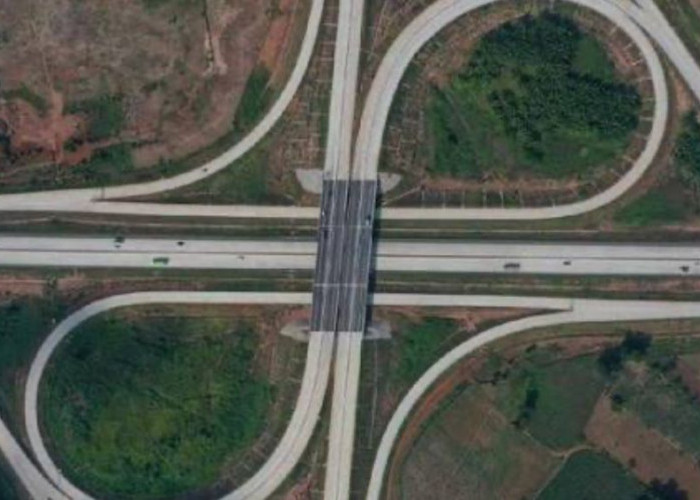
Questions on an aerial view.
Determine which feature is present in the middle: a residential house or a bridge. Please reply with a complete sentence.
The feature located in the middle is a bridge.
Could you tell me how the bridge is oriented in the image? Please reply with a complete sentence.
What the image shows is the bridge lying from top to bottom.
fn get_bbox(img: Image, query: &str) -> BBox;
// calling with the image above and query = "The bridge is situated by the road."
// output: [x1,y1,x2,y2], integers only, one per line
[310,179,377,334]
